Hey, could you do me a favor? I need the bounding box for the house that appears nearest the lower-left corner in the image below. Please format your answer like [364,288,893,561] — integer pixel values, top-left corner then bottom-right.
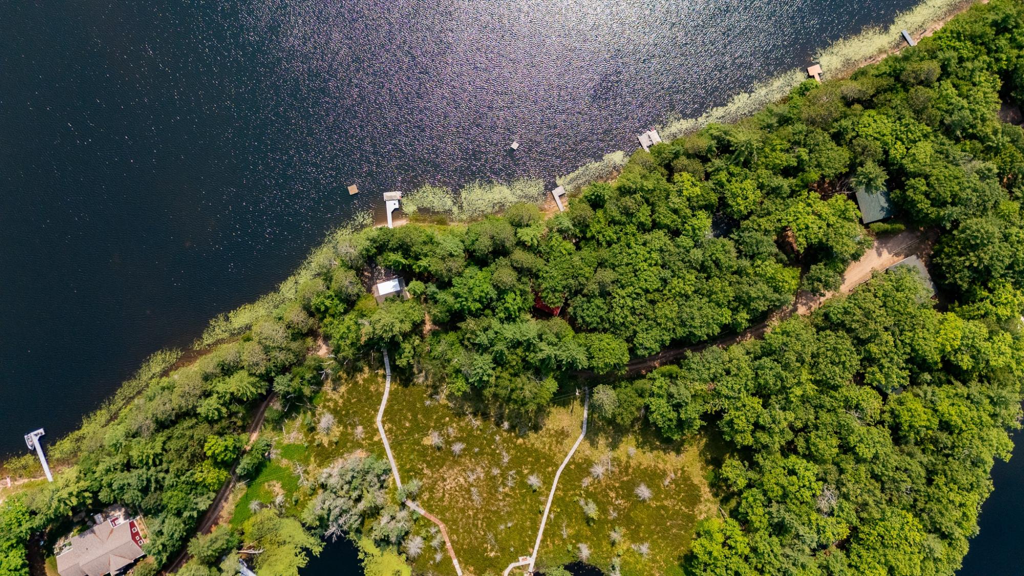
[57,514,146,576]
